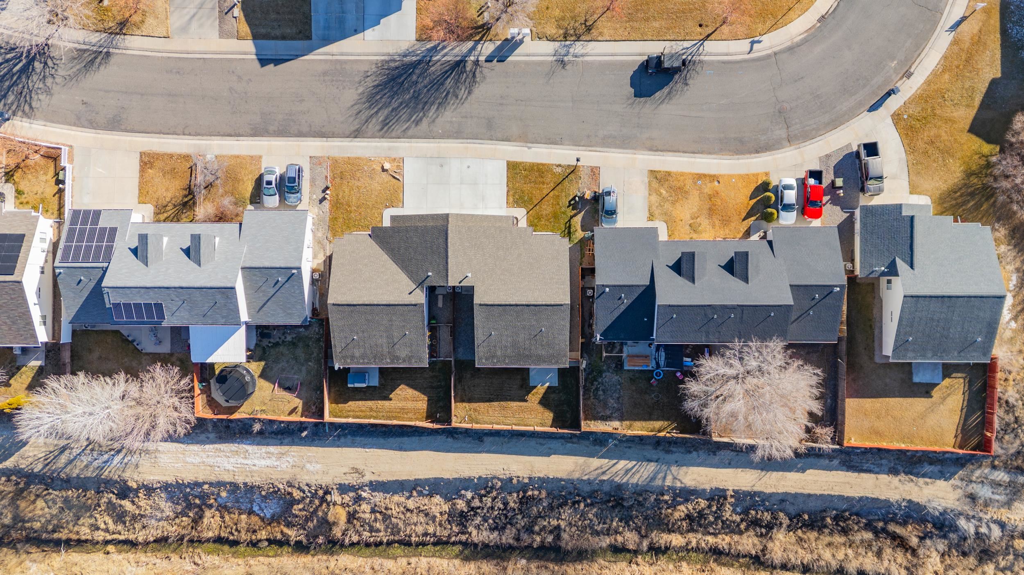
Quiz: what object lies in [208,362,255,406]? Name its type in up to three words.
trampoline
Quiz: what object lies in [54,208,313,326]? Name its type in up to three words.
house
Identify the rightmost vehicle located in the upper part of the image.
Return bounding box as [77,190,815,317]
[857,141,884,196]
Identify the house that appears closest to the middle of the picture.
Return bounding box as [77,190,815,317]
[327,212,571,367]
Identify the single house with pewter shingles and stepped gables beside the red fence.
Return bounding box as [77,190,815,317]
[853,203,1007,363]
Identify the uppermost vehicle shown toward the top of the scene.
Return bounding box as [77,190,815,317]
[643,51,682,73]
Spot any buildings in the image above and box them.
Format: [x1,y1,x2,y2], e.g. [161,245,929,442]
[593,226,848,344]
[54,208,313,326]
[853,203,1007,363]
[327,212,571,367]
[0,208,52,347]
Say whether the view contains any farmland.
No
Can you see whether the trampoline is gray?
Yes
